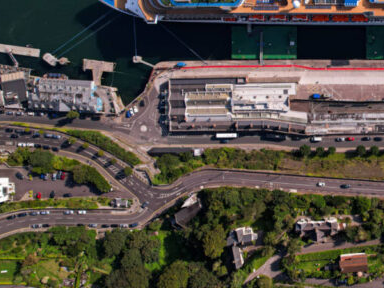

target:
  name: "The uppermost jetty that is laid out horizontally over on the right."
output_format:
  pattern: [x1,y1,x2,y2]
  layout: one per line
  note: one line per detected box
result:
[232,28,298,59]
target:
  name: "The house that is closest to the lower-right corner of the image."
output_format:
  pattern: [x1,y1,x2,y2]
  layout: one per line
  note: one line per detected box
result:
[340,253,368,271]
